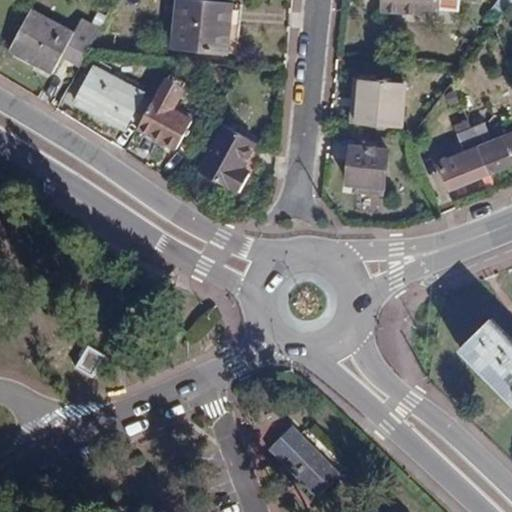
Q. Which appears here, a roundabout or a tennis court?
roundabout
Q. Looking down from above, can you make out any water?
No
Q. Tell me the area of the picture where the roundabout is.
center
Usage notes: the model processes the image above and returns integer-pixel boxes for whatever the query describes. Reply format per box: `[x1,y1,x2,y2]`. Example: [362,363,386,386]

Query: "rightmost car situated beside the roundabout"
[352,294,372,312]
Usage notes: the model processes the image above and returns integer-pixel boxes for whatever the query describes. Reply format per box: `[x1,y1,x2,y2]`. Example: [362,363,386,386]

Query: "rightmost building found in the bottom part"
[457,318,512,415]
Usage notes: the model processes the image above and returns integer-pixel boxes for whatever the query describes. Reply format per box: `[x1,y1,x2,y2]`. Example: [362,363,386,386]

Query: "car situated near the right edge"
[471,205,492,219]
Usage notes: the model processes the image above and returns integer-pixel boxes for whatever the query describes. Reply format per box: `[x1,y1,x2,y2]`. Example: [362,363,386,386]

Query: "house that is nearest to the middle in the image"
[213,134,258,195]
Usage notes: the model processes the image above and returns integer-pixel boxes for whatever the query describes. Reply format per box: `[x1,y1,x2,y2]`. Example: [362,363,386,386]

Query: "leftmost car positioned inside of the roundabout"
[266,273,282,292]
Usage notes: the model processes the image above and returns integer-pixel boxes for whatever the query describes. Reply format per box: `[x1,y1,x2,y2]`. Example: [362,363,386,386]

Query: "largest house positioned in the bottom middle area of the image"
[269,426,341,493]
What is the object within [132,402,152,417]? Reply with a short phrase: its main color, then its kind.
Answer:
white car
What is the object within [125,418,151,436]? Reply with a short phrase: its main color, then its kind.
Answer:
white vehicle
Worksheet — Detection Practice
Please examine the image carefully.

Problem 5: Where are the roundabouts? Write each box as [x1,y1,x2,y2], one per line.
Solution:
[252,246,362,356]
